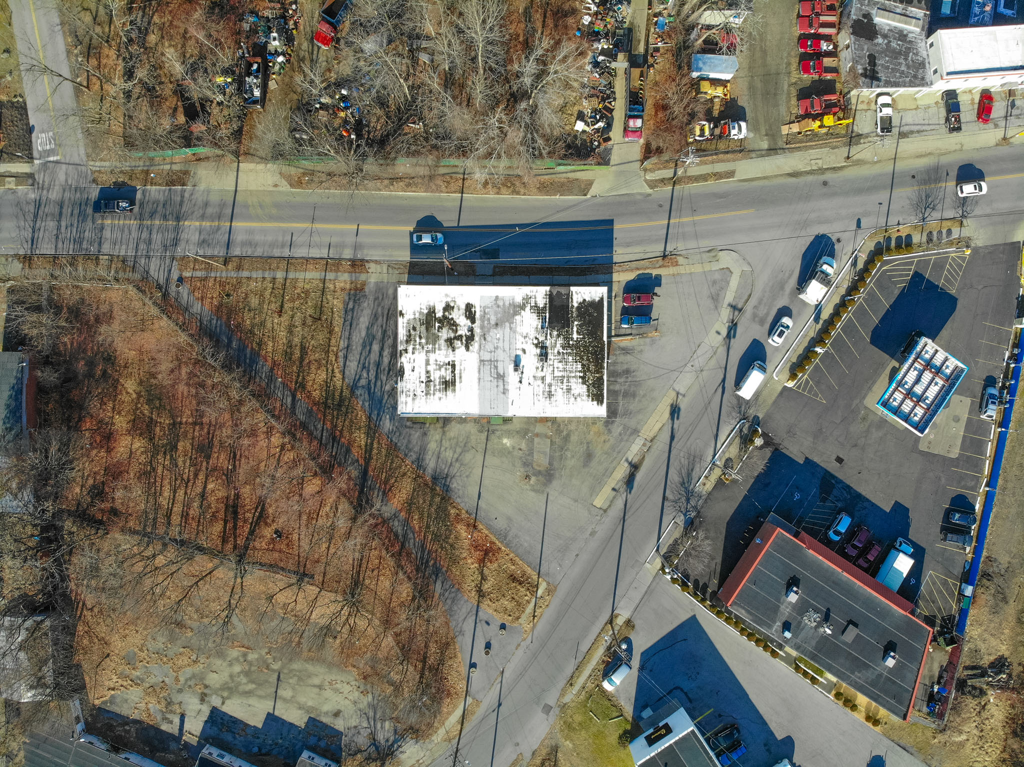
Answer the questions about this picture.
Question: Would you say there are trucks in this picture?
Yes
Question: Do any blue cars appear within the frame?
Yes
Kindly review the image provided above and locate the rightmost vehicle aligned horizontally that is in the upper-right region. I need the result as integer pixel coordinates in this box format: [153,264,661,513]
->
[956,181,987,196]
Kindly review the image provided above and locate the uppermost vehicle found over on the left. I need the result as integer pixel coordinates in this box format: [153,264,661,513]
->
[312,0,350,54]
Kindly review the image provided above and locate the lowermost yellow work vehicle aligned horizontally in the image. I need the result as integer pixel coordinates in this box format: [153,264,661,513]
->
[799,117,850,137]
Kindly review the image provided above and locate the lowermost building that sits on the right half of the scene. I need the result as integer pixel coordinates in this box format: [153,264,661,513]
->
[628,707,718,767]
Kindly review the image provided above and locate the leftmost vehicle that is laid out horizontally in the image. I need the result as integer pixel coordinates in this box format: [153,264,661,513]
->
[96,198,137,214]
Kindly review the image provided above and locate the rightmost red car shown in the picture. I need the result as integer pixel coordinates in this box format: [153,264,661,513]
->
[976,93,994,123]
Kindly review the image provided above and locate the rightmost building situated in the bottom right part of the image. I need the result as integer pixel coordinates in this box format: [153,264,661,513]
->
[717,515,933,721]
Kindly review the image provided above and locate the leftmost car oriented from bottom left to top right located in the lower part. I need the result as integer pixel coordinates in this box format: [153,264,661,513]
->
[604,654,634,690]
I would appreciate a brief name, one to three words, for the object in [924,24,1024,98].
building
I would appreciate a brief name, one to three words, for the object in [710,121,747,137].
vehicle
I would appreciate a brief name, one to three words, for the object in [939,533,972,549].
car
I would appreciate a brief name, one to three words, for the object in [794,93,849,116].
truck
